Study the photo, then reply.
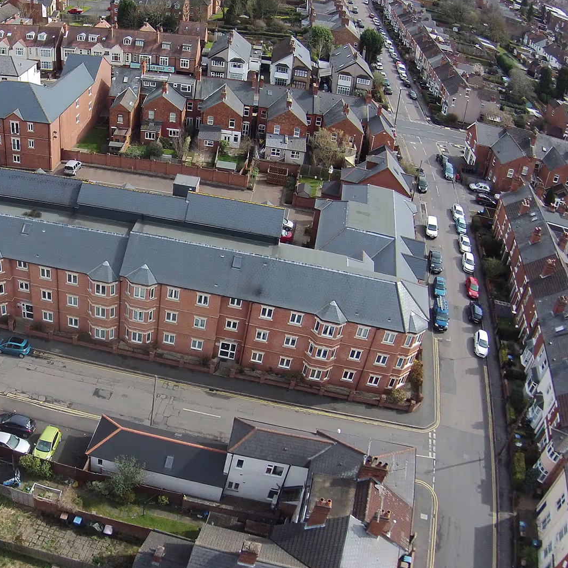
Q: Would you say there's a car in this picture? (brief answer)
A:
Yes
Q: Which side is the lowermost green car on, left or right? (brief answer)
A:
left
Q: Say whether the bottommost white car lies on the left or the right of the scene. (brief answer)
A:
left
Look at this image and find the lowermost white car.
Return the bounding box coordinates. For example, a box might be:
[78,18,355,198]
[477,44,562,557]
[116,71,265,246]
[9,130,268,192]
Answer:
[0,428,34,453]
